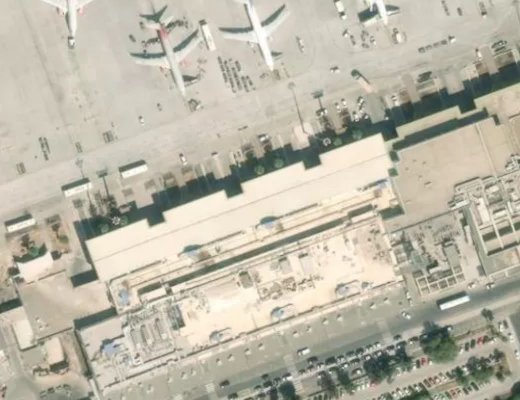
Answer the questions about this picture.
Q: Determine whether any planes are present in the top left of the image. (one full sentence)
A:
Yes, a plane can be seen in the top left of the image.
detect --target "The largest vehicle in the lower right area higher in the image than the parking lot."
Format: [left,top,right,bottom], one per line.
[439,293,469,309]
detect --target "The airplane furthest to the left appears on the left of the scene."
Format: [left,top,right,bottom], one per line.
[53,0,85,38]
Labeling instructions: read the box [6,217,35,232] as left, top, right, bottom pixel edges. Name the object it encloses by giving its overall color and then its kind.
white vehicle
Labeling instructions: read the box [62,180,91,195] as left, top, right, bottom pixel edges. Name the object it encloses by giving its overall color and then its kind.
white vehicle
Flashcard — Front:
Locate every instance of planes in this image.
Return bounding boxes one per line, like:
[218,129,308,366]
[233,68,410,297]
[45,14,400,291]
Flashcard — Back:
[224,0,289,69]
[136,14,201,94]
[53,0,85,38]
[377,0,389,24]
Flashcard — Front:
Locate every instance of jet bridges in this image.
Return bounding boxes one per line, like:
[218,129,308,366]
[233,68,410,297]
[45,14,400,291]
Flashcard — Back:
[352,72,375,94]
